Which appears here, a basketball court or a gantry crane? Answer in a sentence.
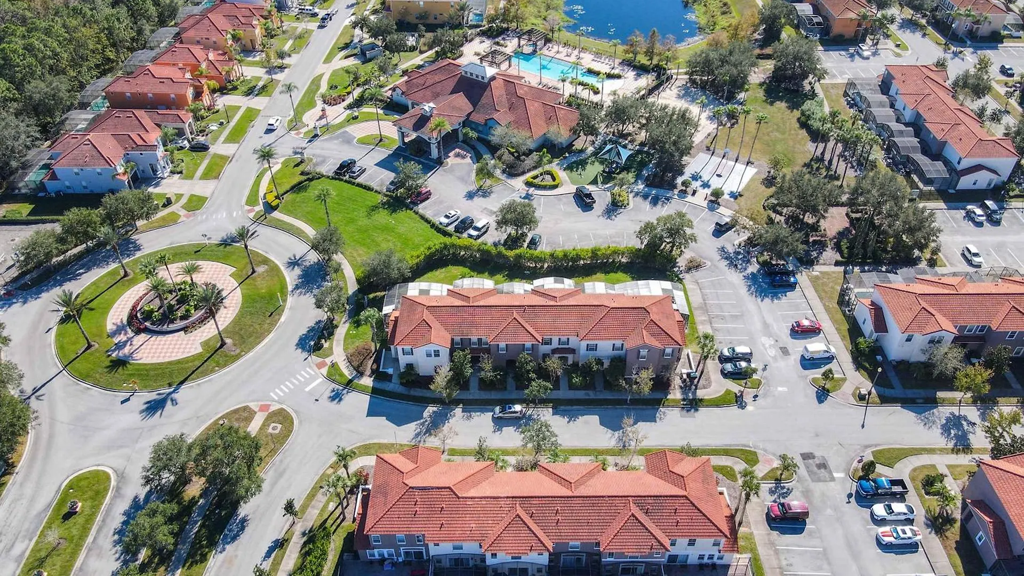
The one in the frame is a basketball court.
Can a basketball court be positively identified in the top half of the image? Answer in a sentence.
Yes, a basketball court is visible in the top half of the image.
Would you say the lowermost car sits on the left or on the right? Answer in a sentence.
You can find the lowermost car on the right side of the picture.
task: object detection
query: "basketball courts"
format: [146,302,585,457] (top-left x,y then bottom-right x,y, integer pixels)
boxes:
[676,152,757,200]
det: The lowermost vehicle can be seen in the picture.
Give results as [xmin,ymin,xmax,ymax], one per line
[875,525,924,547]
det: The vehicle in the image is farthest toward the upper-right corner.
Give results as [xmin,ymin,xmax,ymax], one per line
[1000,63,1014,76]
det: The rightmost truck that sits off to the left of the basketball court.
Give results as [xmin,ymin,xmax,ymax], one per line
[574,186,597,207]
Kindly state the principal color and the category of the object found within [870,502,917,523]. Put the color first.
white car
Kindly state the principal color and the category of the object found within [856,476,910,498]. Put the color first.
blue truck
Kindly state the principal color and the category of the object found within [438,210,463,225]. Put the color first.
white car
